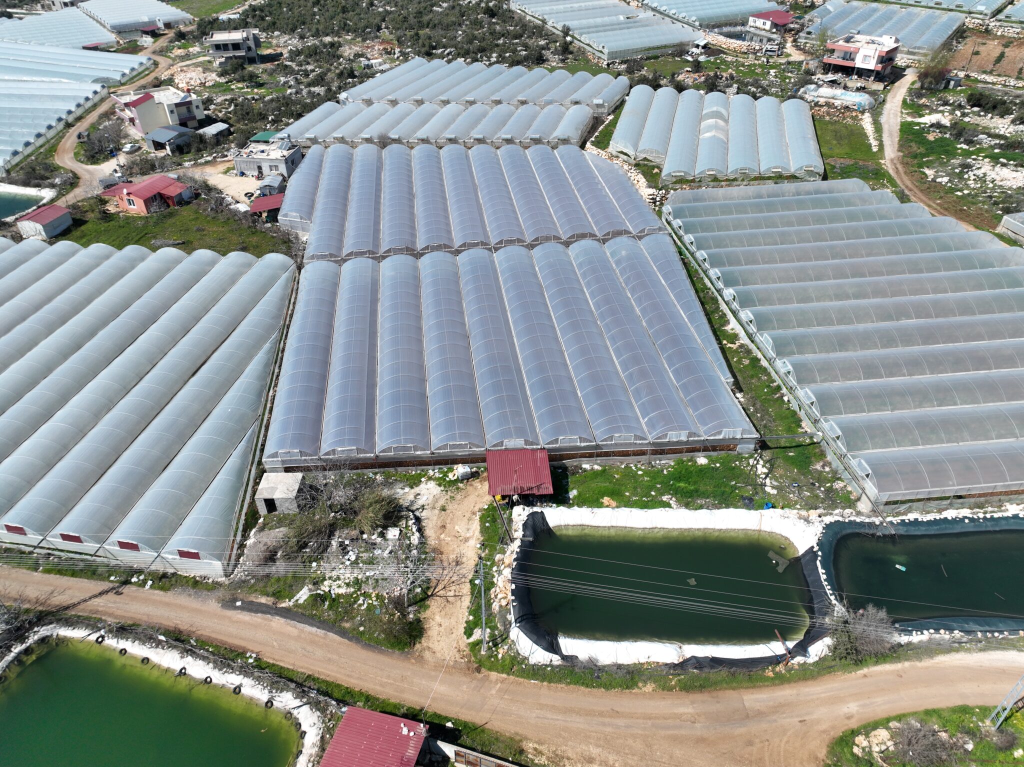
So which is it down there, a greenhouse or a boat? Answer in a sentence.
Visible in the photo is a greenhouse.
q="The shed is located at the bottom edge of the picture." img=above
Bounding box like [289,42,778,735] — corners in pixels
[319,706,431,767]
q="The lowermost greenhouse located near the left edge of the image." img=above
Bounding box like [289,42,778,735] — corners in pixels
[0,233,298,588]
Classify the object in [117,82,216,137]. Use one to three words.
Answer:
house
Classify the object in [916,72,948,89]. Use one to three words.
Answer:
shed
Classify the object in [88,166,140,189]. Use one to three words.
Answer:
truck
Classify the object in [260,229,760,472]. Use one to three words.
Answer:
greenhouse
